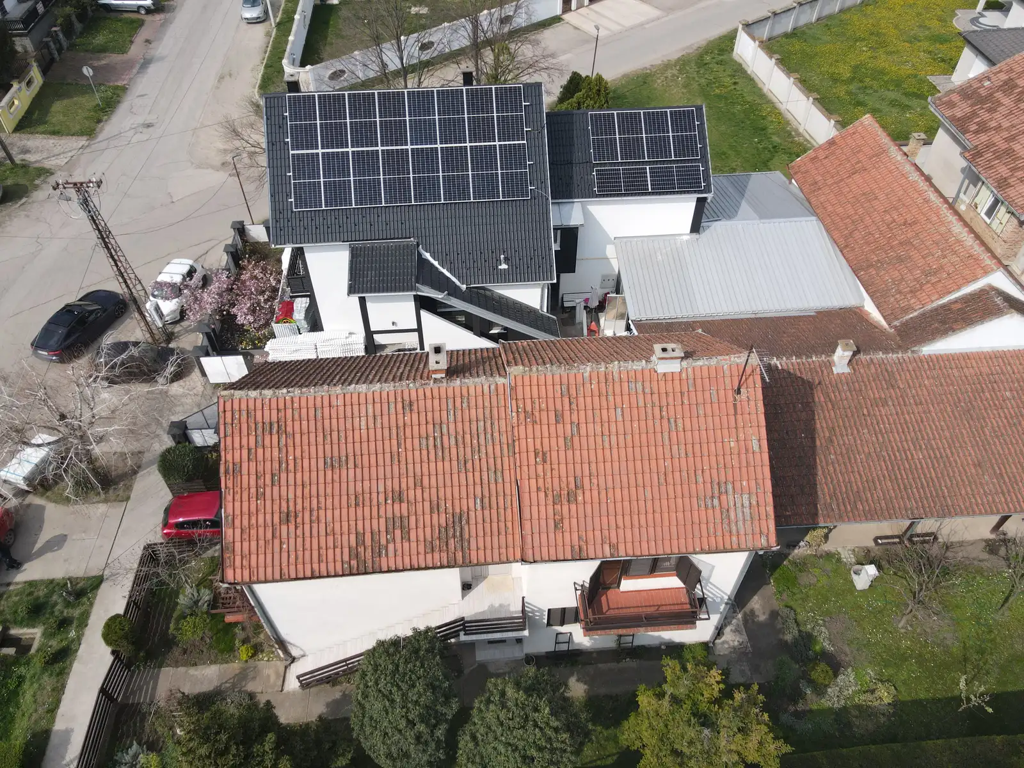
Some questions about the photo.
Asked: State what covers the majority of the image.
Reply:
buildings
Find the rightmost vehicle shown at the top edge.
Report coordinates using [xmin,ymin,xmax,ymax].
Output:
[241,0,275,21]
